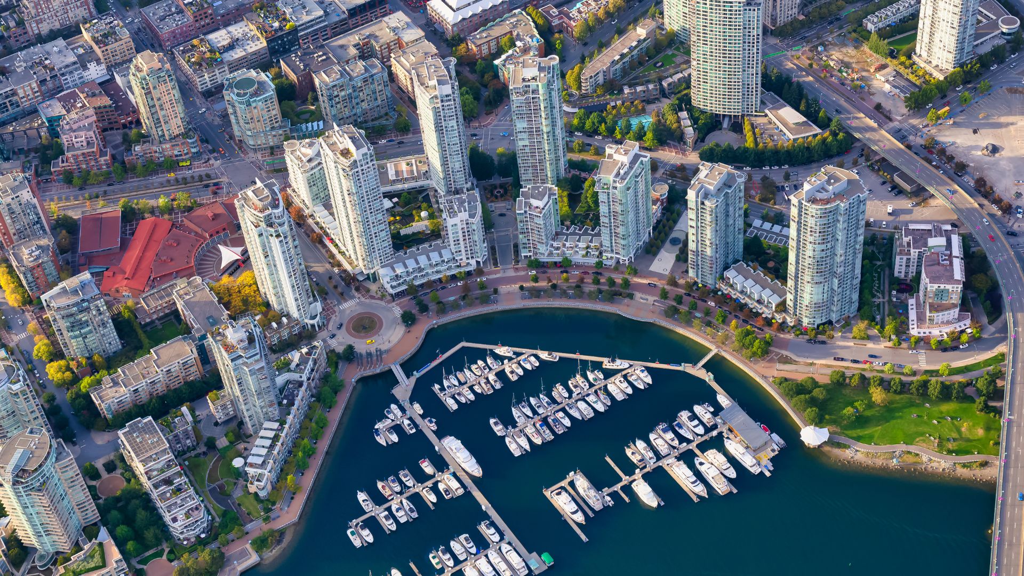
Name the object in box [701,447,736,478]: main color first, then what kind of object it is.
white boat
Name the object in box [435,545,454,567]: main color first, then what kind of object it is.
white boat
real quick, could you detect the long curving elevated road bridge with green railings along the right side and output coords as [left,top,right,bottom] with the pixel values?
[768,40,1024,576]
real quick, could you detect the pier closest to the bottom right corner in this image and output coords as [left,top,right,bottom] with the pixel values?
[716,401,780,478]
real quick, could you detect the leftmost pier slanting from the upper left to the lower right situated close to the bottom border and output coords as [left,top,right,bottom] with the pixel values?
[400,401,537,566]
